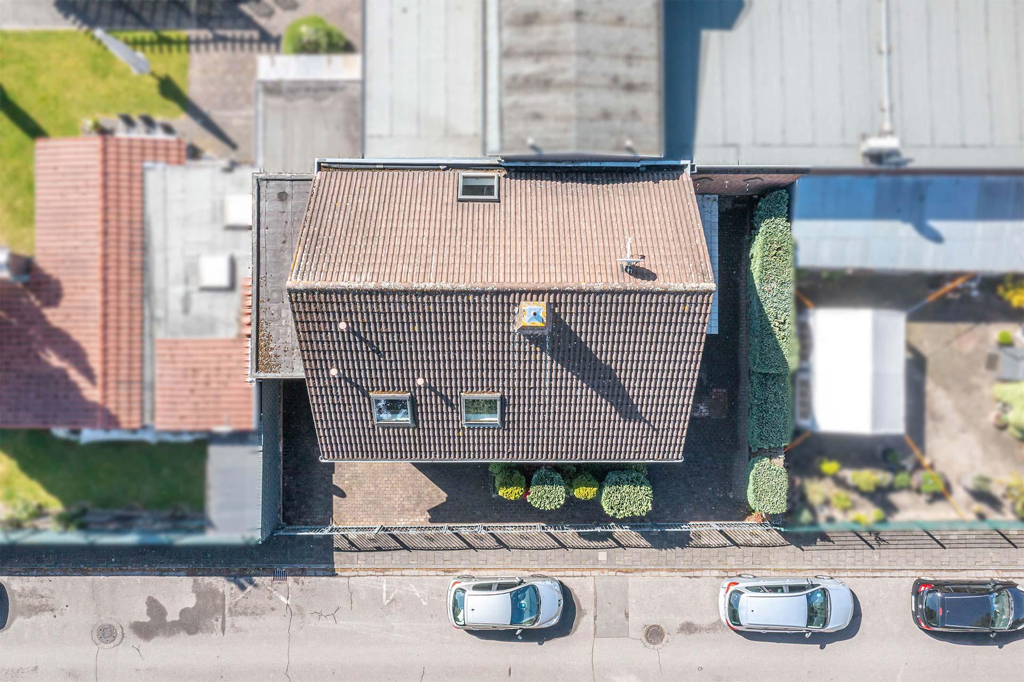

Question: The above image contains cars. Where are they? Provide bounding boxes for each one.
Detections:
[717,576,852,640]
[905,577,1024,641]
[447,575,563,638]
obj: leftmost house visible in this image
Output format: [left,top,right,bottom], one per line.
[0,132,184,430]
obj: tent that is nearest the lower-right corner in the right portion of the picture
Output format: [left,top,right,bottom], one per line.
[779,272,972,520]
